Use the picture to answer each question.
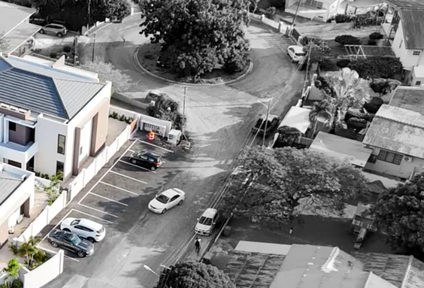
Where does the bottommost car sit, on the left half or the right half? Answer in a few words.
left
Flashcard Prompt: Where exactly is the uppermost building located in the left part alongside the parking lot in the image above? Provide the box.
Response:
[0,52,116,176]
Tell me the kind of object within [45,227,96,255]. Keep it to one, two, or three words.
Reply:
car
